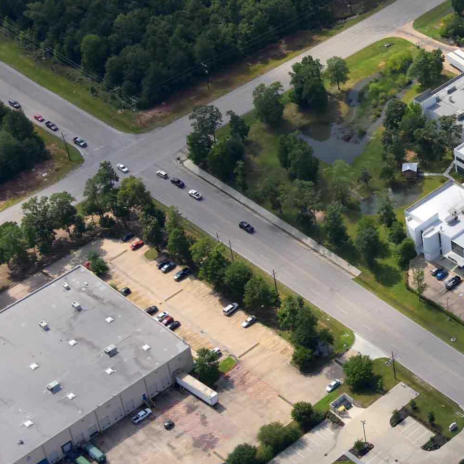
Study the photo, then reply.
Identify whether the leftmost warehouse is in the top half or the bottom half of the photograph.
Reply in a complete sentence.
You can find the leftmost warehouse in the bottom half.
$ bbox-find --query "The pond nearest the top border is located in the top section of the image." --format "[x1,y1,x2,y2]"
[298,73,416,162]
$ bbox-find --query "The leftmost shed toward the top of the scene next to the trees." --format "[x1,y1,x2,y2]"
[399,161,419,184]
